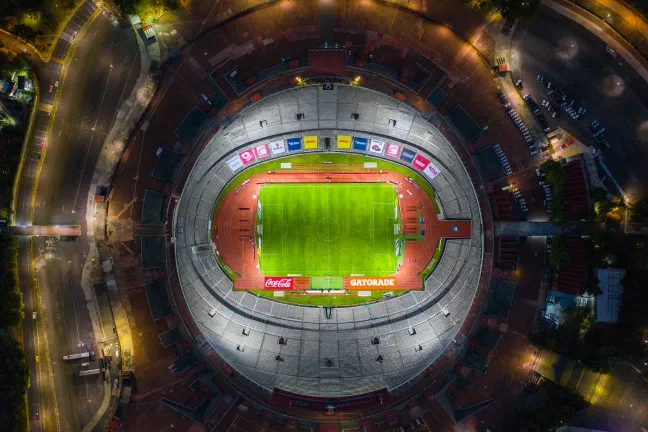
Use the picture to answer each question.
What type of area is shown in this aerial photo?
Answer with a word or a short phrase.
sports ground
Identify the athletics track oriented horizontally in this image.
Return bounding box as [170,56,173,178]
[214,173,465,291]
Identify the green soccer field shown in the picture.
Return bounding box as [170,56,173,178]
[256,182,401,276]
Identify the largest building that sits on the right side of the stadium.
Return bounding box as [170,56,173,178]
[592,268,625,323]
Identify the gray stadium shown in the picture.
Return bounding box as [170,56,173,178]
[165,67,494,421]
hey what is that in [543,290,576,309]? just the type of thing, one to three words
building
